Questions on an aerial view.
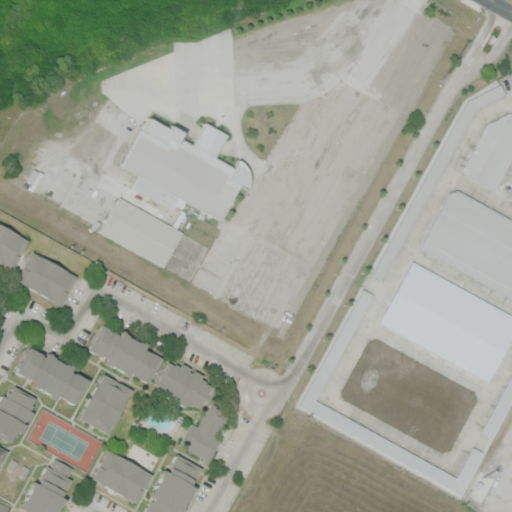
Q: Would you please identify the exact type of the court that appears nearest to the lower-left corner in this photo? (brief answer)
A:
tennis court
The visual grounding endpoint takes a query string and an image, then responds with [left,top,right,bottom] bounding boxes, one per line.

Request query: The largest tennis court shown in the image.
[26,410,102,474]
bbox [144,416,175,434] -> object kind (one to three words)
swimming pool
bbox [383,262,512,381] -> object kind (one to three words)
warehouse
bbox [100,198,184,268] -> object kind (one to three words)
hangar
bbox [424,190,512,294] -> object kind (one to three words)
building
